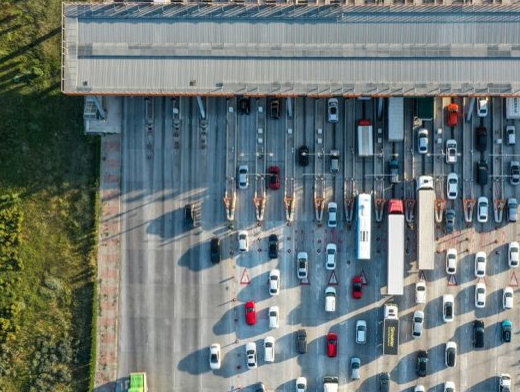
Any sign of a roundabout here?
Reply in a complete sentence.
No, the photo shows no roundabout.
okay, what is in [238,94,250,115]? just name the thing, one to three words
vehicle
